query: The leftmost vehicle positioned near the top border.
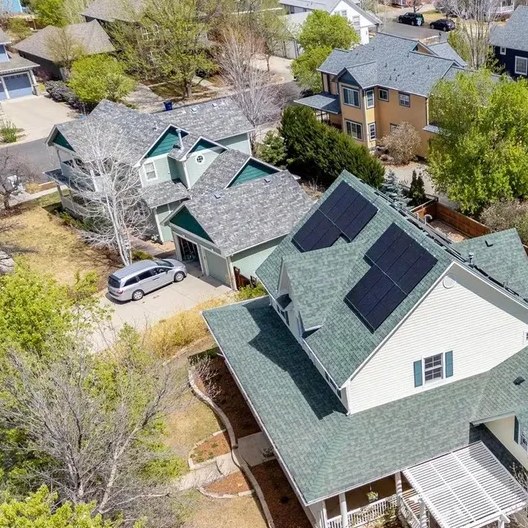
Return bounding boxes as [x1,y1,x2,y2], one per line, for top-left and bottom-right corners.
[397,10,428,26]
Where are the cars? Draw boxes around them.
[102,257,189,300]
[427,15,457,31]
[397,10,428,26]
